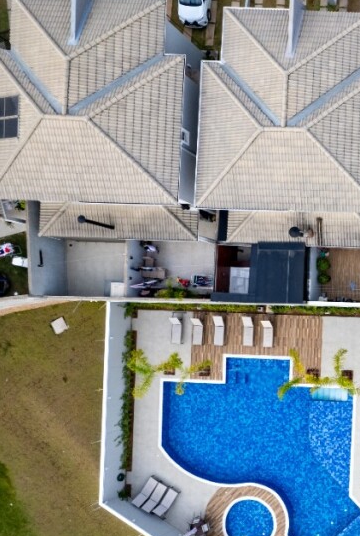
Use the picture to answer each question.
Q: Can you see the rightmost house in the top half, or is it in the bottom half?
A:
top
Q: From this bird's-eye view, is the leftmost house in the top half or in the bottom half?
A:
top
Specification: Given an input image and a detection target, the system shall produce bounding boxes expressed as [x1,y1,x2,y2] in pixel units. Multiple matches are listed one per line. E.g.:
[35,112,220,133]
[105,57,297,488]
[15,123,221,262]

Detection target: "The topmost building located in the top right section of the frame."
[193,0,360,251]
